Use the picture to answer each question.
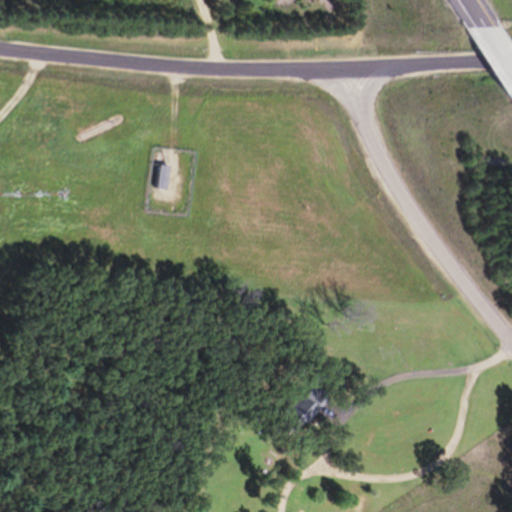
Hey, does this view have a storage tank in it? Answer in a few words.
No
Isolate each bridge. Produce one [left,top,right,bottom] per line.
[463,20,512,101]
